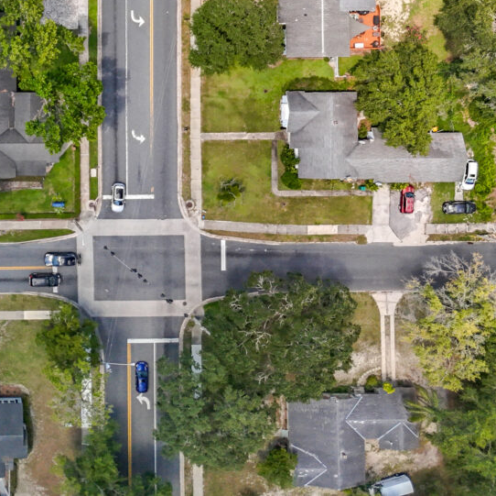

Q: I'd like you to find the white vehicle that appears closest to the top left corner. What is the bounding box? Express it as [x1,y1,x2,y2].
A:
[111,181,126,211]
